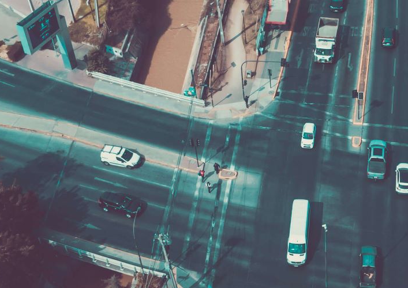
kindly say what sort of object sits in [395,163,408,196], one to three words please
vehicle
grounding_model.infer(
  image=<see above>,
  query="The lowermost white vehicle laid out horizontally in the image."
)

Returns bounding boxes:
[99,143,141,168]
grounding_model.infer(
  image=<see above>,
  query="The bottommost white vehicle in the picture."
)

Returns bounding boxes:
[285,199,310,264]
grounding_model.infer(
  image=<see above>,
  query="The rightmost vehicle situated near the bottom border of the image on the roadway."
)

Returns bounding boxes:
[358,247,380,288]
